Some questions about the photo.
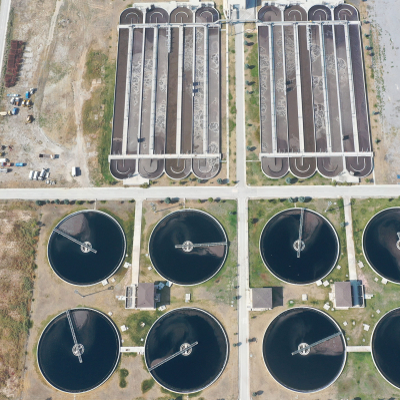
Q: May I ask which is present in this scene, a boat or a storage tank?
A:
storage tank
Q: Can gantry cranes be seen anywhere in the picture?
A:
No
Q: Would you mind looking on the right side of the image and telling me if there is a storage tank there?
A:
Yes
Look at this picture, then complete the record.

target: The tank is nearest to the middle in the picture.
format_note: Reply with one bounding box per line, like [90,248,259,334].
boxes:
[148,209,228,286]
